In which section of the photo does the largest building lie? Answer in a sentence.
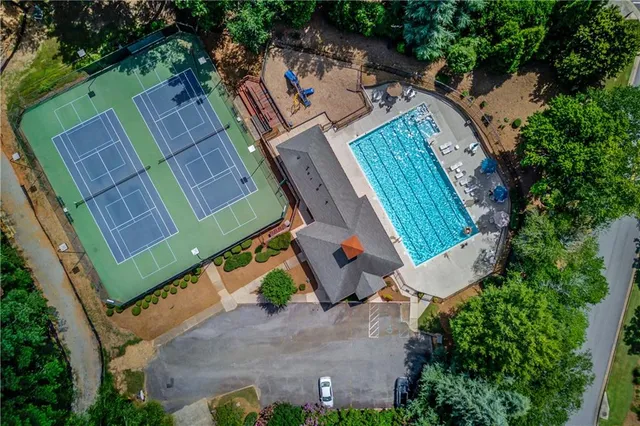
The largest building is located in the center region of the scene.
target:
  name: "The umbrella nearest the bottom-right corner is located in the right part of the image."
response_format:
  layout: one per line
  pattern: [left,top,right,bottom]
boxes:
[493,211,509,227]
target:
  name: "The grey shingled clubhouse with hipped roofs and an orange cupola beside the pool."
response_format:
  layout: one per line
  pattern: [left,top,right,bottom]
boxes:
[276,125,404,304]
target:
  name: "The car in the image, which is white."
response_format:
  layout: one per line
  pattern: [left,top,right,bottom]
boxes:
[319,376,334,409]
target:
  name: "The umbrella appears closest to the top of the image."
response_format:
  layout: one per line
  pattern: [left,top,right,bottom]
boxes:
[387,82,402,97]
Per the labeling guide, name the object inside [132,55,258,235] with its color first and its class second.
blue tennis court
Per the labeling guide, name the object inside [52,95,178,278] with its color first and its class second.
blue tennis court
